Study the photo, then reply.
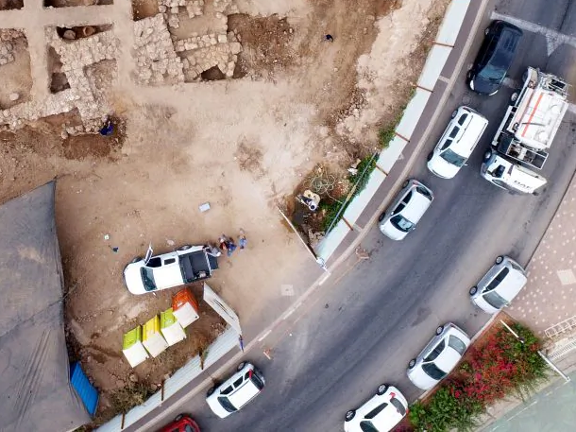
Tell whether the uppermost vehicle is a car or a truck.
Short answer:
car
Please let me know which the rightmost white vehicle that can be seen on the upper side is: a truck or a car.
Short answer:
truck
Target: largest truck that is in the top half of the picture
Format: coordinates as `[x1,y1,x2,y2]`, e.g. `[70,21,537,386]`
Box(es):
[469,58,573,212]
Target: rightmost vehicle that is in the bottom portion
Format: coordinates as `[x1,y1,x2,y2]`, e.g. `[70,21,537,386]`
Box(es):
[465,249,531,325]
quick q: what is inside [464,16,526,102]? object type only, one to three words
car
